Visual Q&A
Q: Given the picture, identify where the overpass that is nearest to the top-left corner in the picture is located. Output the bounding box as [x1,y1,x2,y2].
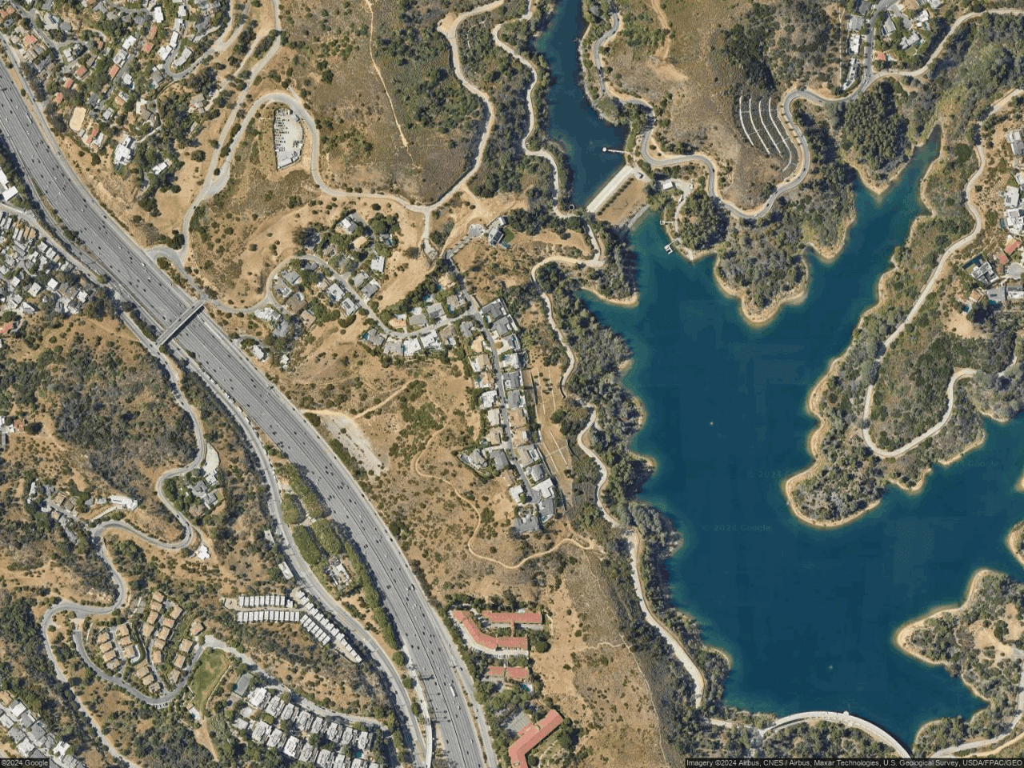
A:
[154,294,208,348]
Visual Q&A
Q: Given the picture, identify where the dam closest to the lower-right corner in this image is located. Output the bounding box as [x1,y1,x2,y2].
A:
[770,711,915,768]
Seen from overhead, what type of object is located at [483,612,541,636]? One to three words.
building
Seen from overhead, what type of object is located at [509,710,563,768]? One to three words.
building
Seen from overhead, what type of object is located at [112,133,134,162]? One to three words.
house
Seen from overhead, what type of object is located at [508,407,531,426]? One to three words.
house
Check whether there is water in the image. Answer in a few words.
Yes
